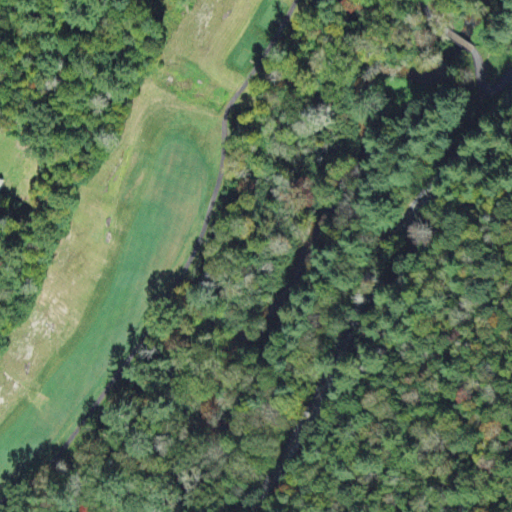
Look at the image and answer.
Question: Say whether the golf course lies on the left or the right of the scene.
left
